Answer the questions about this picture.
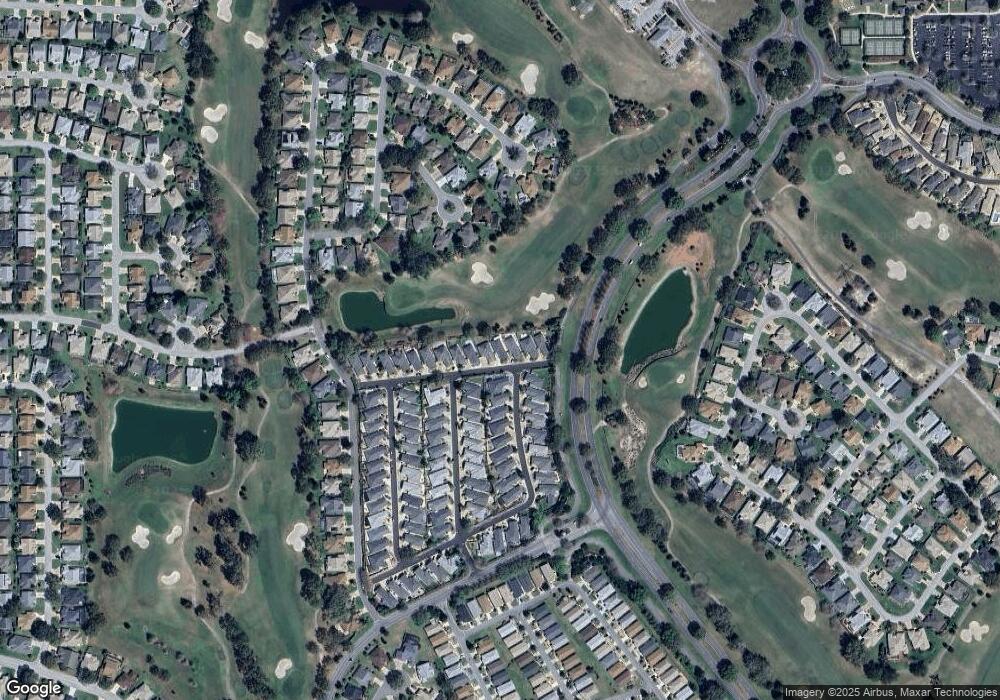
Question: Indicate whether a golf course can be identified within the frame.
Yes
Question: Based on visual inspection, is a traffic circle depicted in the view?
Yes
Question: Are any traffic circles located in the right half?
Yes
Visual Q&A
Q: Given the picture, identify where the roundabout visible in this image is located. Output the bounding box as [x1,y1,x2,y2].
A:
[744,30,823,112]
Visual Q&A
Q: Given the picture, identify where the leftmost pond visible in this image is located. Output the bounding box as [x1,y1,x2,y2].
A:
[111,399,218,474]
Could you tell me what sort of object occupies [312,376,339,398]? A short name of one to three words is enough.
house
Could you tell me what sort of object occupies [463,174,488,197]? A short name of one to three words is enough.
house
